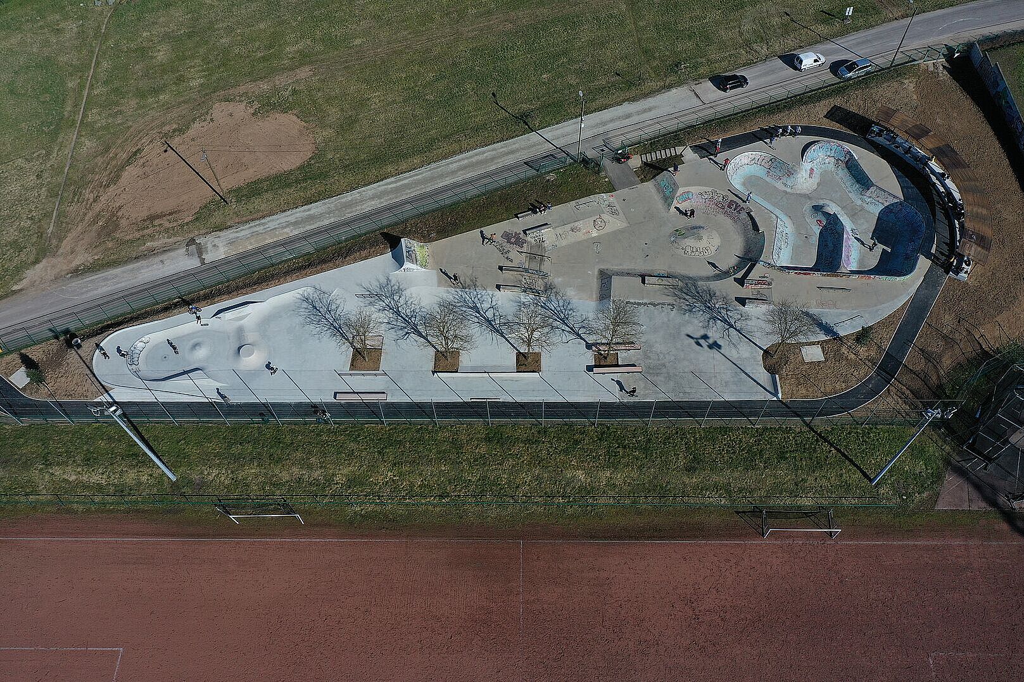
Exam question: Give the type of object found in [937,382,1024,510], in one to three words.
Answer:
sports court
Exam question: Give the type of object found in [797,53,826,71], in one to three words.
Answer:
vehicle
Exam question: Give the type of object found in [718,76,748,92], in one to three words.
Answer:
car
